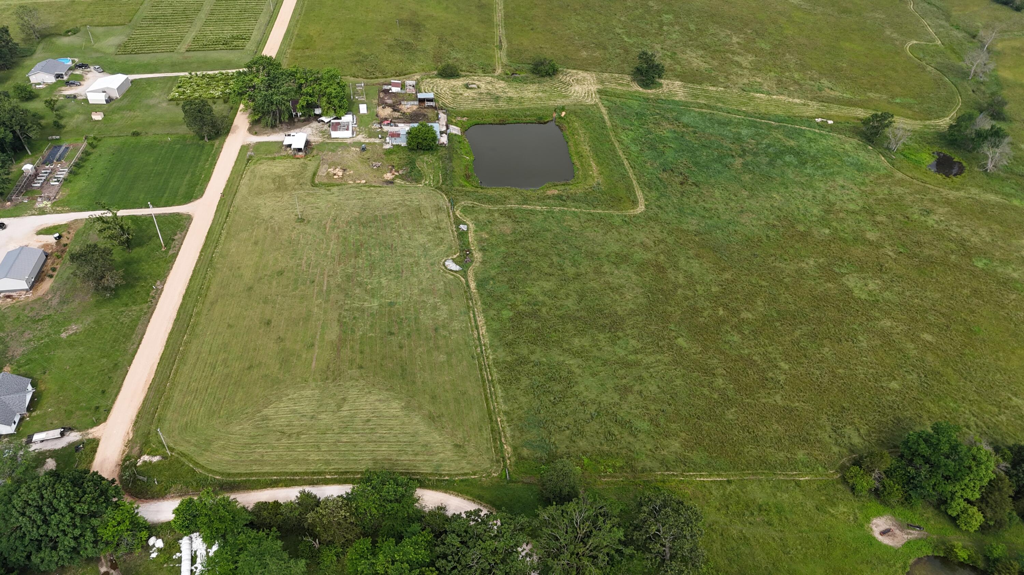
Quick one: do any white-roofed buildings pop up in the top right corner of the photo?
No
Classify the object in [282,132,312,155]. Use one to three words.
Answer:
barn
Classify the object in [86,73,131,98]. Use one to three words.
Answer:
building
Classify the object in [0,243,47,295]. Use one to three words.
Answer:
building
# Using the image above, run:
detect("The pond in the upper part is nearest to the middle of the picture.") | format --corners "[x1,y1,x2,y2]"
[467,119,574,189]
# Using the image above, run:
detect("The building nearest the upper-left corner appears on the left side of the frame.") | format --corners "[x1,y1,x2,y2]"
[27,58,77,82]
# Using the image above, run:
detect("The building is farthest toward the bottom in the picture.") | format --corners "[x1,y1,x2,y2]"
[0,371,44,435]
